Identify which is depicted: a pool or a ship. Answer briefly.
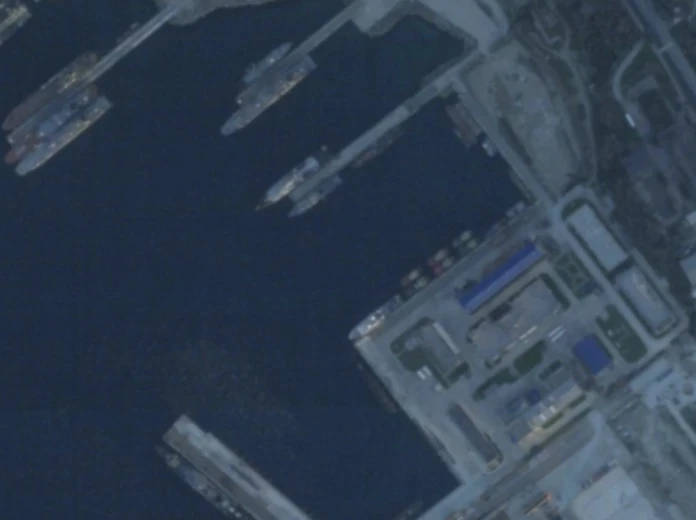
ship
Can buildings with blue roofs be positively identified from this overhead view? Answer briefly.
Yes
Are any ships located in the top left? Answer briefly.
Yes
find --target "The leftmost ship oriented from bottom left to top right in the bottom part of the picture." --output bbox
[348,291,402,339]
